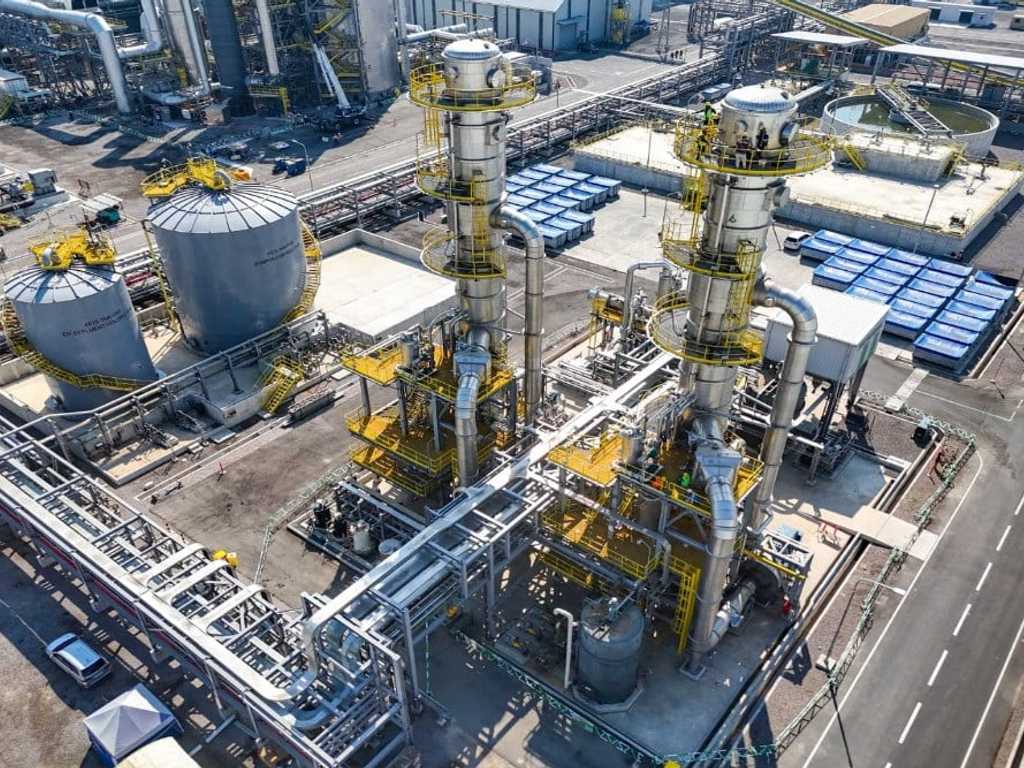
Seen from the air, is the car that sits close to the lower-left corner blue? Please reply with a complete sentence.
Yes, the car that sits close to the lower-left corner appears blue.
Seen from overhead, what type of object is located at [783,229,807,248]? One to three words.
car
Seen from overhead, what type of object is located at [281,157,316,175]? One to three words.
vehicle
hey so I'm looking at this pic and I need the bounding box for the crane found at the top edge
[304,0,368,117]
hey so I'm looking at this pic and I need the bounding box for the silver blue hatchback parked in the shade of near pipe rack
[49,637,116,694]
